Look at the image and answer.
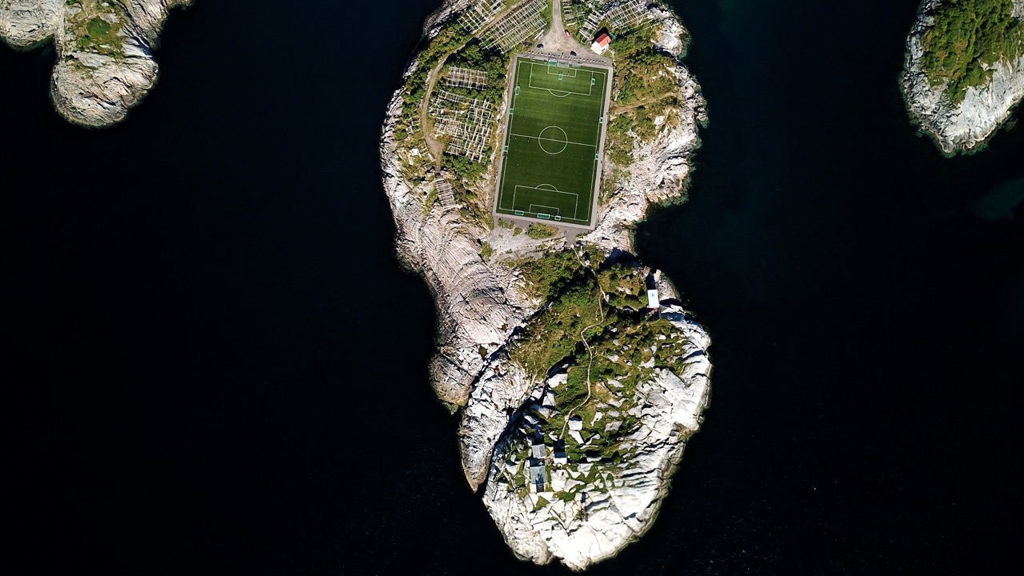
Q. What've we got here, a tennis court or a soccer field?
soccer field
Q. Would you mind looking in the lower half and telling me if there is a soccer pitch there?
No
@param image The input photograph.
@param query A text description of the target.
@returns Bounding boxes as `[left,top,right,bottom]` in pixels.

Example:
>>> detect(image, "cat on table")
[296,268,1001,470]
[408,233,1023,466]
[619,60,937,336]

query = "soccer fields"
[492,54,613,229]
